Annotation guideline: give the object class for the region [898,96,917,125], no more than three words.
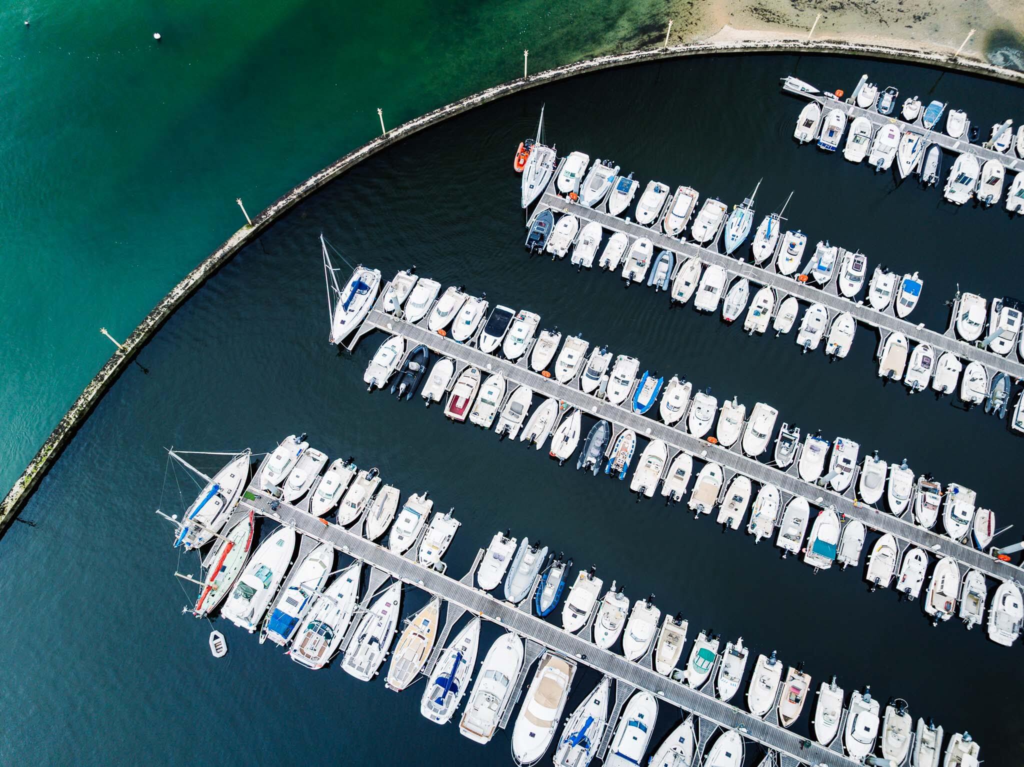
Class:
boat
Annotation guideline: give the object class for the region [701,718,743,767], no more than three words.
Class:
boat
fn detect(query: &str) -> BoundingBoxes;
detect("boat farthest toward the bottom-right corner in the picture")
[939,728,977,767]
